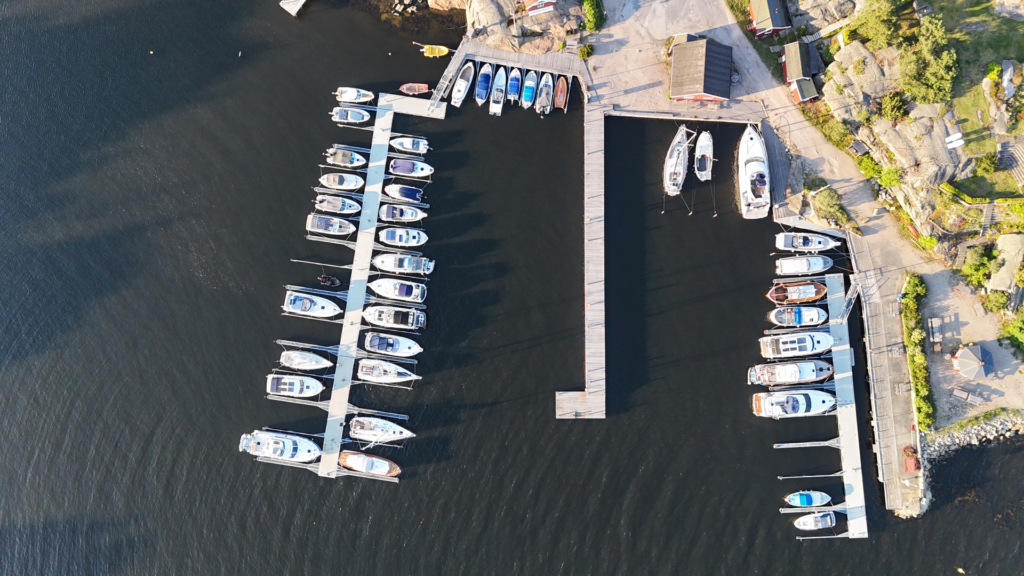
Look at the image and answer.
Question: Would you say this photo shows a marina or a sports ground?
marina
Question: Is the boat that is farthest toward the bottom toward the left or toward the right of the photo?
right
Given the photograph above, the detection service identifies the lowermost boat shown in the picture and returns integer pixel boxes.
[792,509,837,531]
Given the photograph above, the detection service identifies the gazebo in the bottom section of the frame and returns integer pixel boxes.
[952,345,994,384]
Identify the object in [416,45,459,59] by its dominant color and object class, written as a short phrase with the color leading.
yellow boat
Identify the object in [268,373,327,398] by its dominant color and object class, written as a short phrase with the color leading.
white boat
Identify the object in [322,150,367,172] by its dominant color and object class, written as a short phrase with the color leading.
white boat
